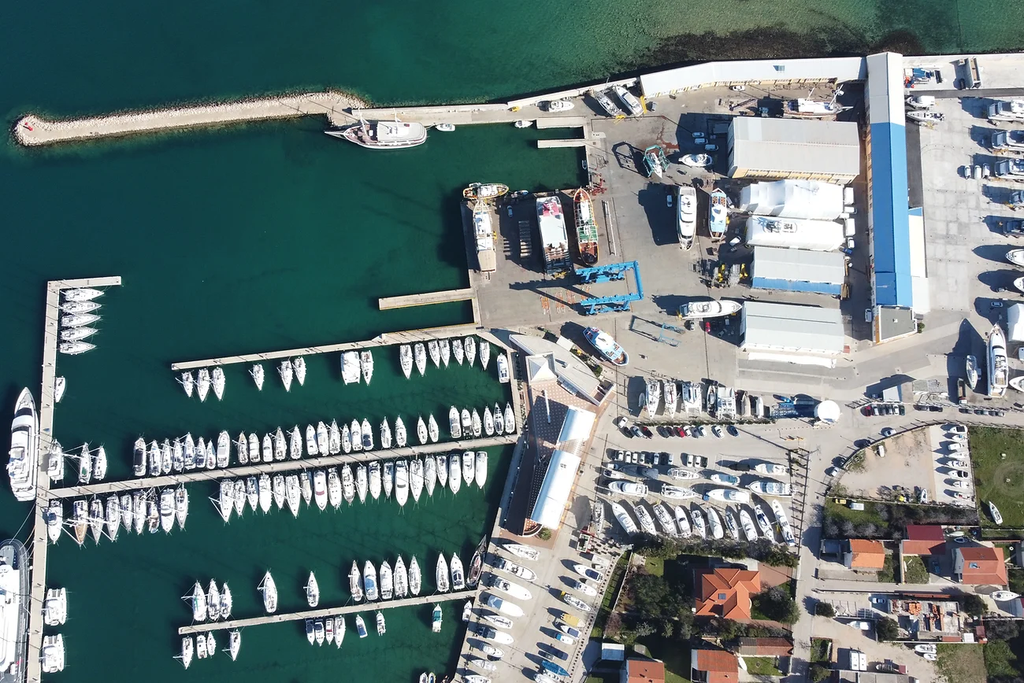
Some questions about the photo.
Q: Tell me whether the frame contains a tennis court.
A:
No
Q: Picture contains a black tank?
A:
No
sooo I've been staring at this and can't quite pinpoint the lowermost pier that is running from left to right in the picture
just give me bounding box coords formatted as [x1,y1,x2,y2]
[178,590,476,635]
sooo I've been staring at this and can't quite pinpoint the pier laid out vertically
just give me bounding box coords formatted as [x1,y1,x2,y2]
[31,276,123,683]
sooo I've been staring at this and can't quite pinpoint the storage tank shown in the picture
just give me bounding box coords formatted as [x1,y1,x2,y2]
[806,399,841,432]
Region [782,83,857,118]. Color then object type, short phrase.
white ship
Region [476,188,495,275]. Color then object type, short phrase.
white ship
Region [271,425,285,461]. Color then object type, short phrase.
white boat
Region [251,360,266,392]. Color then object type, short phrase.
white boat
